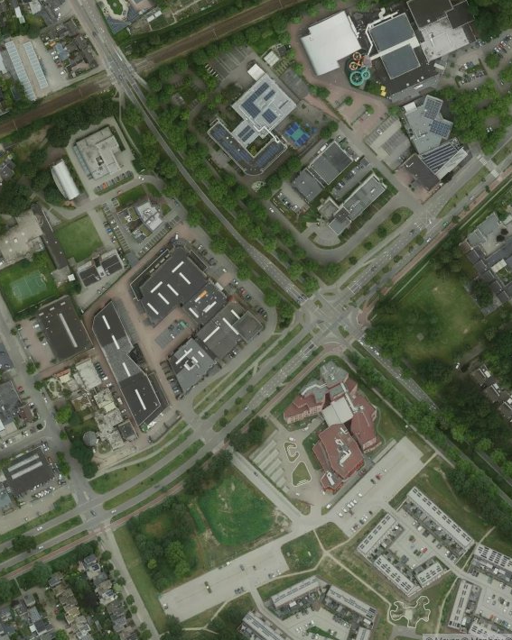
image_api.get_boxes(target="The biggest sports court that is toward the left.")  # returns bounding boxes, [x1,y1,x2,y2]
[11,272,46,300]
